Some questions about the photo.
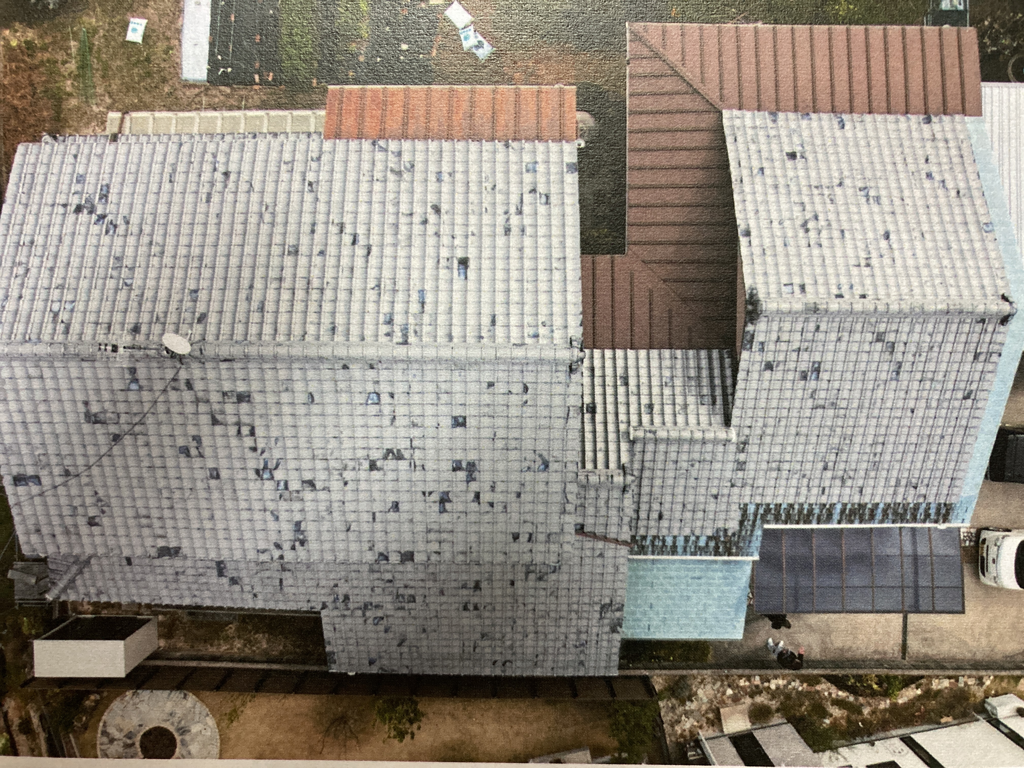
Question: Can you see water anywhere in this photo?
No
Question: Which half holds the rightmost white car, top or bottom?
bottom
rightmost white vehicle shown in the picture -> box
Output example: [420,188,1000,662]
[971,527,1024,588]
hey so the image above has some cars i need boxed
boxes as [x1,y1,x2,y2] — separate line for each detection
[987,430,1024,482]
[971,527,1024,588]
